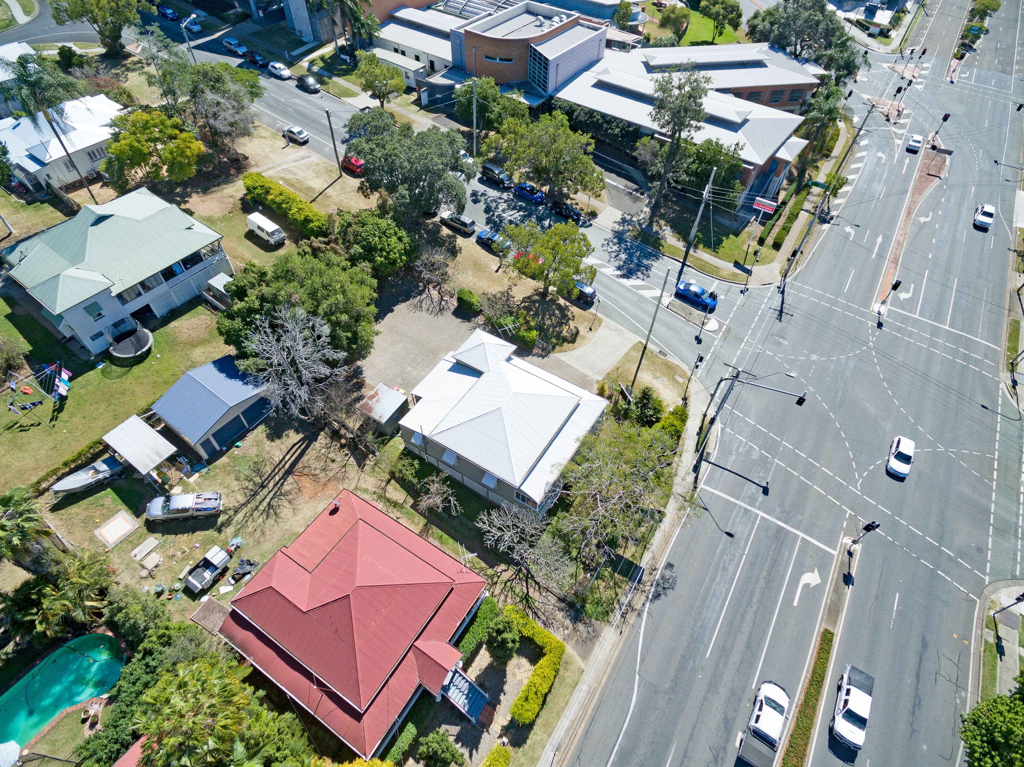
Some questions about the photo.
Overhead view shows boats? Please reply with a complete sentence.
Yes, looking at the shot, I can spot a boat.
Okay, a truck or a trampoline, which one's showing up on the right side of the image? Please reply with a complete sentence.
What appears on the right side of the image is a truck.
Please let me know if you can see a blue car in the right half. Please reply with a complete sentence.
Yes, in the right half there is a blue car.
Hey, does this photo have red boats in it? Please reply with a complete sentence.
No, no red boat is visible in the scene.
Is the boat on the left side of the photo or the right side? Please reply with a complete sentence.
It is on the left.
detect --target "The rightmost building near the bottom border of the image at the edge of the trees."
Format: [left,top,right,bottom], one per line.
[217,488,496,760]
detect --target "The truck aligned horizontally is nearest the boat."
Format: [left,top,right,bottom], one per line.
[146,491,223,524]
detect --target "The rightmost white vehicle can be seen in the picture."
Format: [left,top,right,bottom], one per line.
[973,205,995,227]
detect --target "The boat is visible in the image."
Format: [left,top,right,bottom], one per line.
[44,455,121,496]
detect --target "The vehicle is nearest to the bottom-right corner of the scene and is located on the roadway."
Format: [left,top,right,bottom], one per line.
[829,661,878,754]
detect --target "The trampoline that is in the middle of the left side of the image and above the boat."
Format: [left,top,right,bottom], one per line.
[100,322,158,368]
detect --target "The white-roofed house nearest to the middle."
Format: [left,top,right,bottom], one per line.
[398,292,610,515]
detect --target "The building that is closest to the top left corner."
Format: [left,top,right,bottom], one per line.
[0,34,37,82]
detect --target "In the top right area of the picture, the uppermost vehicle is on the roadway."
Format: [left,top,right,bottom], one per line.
[907,137,923,150]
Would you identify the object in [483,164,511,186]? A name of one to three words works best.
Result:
car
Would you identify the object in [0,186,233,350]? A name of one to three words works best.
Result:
building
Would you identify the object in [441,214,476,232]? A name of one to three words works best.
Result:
car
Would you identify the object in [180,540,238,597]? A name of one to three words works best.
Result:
trailer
